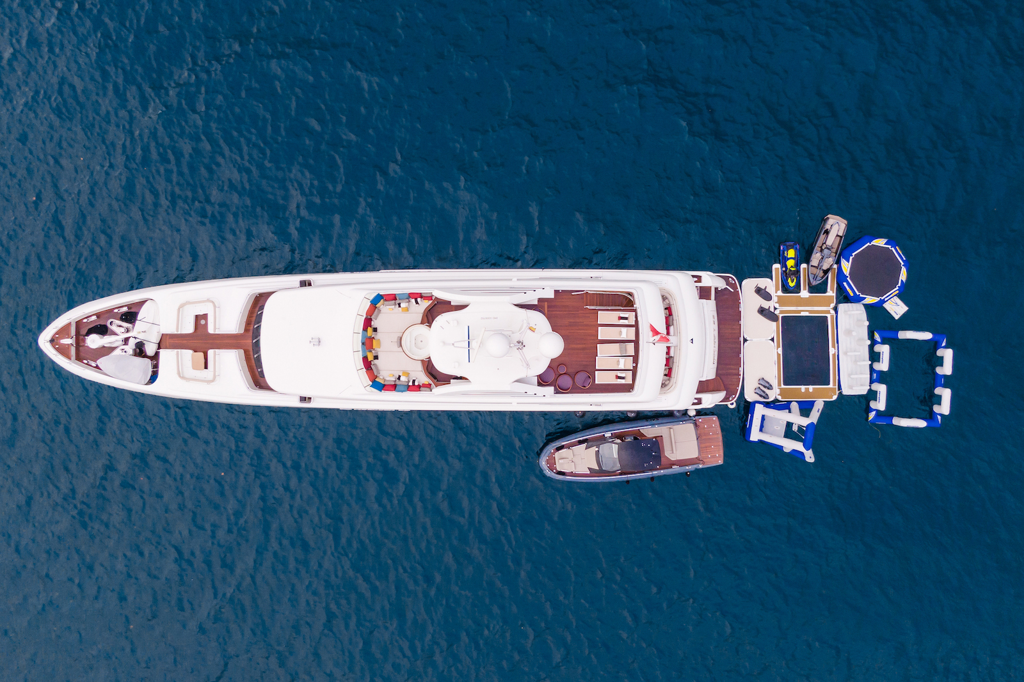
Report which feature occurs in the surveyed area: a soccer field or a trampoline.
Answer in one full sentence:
I can see a trampoline in this picture.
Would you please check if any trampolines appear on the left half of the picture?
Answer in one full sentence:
No, no trampoline can be made out on the left half of the picture.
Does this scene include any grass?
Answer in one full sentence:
No, no grass is visible.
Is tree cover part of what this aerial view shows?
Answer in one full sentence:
No, no tree cover is visible.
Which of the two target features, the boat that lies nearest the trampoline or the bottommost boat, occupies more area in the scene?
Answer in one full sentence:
Compared with the boat that lies nearest the trampoline, the bottommost boat is the bigger one.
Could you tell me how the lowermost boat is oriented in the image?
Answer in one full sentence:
I'd say the lowermost boat is aligned horizontally in the picture.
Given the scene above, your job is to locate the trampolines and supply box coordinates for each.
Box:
[837,235,910,307]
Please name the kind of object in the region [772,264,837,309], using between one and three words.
pier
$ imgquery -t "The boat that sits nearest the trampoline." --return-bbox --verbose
[809,214,848,286]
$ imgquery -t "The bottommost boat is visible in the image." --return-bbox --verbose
[537,416,723,484]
